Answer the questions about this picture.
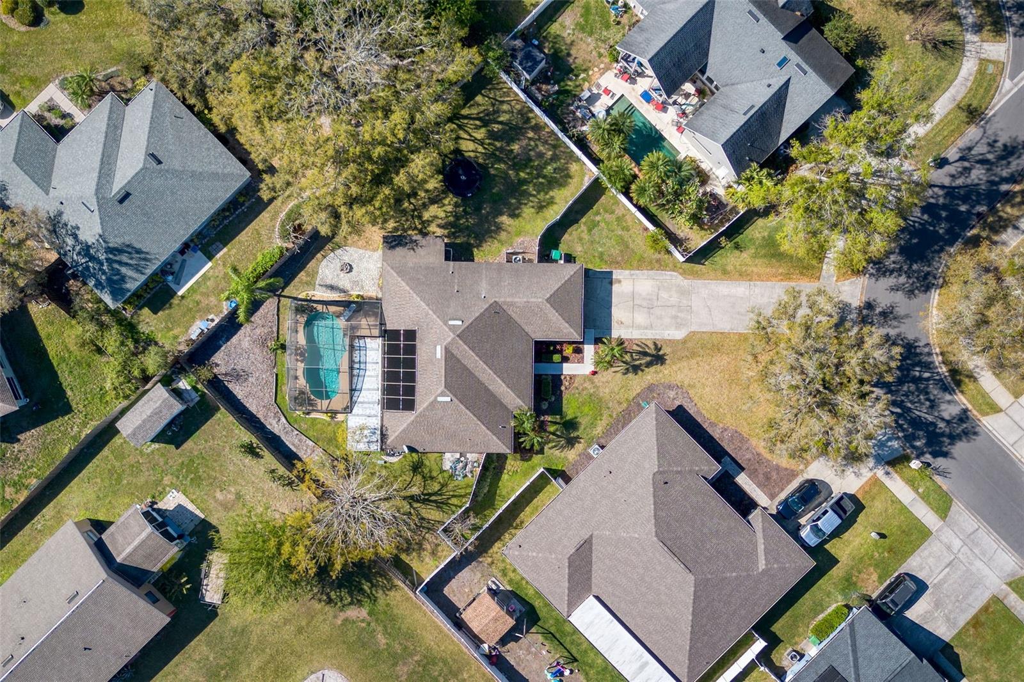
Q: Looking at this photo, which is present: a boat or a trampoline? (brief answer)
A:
trampoline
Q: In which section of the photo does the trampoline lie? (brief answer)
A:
top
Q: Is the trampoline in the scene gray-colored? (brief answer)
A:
No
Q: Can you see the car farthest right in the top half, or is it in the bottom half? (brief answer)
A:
bottom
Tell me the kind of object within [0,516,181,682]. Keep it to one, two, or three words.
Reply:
house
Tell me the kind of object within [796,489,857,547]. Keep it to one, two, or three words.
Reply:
truck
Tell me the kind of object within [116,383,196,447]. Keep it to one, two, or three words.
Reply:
shed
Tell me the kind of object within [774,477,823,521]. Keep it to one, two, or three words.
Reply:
car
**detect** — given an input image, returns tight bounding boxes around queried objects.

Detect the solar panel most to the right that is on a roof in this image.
[810,657,852,682]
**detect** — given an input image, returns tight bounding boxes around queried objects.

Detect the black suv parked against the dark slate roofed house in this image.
[870,567,919,619]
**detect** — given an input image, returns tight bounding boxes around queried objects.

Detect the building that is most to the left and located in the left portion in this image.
[0,357,38,418]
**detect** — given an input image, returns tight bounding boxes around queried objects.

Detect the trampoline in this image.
[443,154,483,196]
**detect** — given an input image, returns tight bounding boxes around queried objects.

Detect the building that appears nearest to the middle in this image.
[382,235,584,454]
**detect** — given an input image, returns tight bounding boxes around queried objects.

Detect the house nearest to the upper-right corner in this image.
[615,0,855,178]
